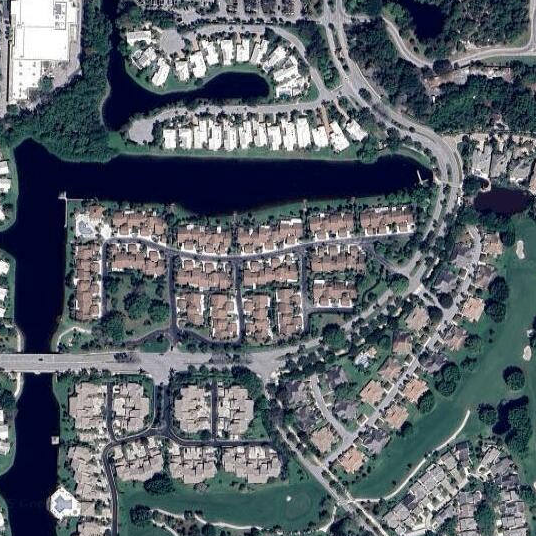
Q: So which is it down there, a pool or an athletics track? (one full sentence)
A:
It is a pool that can be seen here.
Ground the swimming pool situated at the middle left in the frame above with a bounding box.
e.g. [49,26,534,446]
[75,214,102,240]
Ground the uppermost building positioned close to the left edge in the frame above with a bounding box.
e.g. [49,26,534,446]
[11,0,77,105]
